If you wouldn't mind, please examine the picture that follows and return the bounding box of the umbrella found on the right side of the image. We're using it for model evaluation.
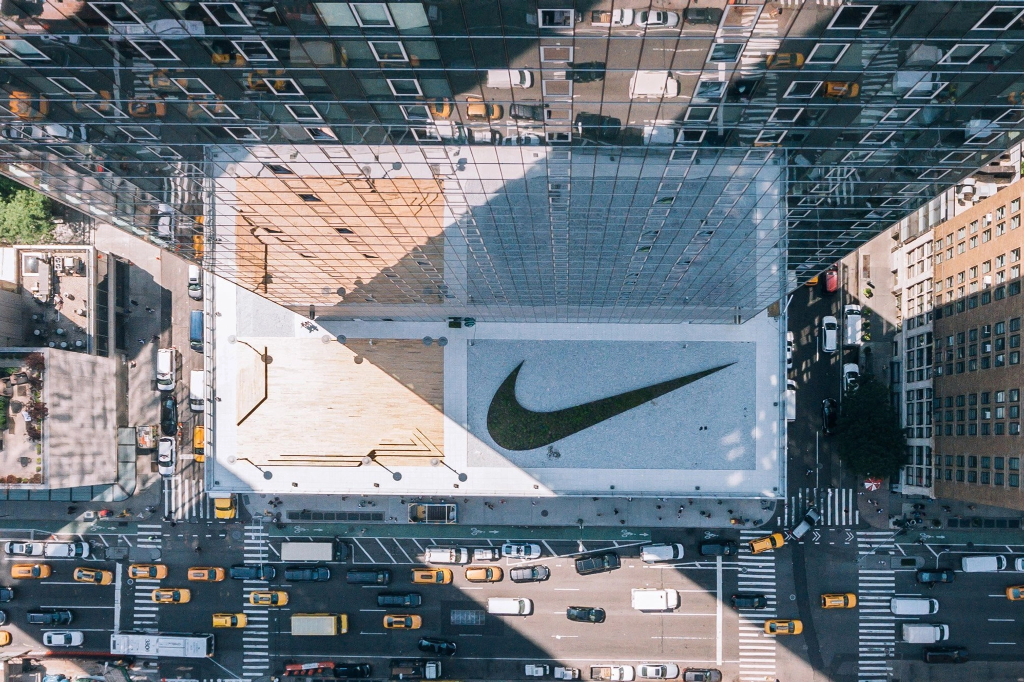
[863,474,881,492]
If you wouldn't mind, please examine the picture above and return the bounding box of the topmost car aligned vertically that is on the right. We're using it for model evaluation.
[823,263,840,296]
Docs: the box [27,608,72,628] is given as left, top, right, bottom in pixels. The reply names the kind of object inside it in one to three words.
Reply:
car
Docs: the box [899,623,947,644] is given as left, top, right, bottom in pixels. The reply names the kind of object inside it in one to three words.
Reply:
truck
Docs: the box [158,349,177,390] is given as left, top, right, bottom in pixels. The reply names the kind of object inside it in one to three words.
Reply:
vehicle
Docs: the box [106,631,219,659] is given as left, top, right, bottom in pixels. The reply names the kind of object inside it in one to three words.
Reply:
bus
